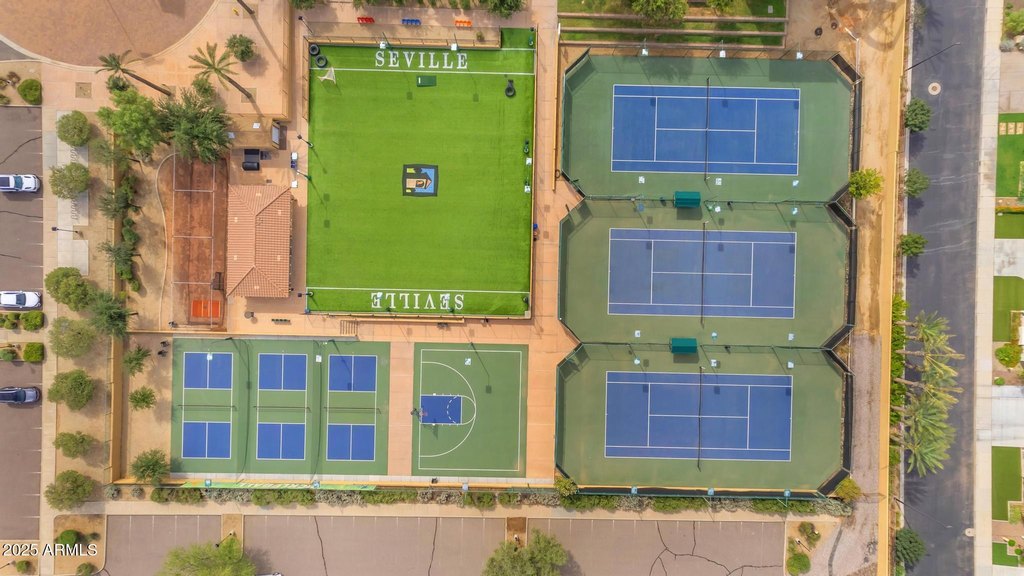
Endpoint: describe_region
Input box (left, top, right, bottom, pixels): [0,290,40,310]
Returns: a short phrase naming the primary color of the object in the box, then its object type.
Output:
white car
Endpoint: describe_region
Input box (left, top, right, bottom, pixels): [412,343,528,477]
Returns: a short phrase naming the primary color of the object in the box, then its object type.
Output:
green basketball court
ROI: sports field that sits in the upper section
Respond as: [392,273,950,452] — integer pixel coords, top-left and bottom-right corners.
[306,27,536,316]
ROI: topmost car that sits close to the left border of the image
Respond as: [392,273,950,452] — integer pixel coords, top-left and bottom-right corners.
[0,173,40,194]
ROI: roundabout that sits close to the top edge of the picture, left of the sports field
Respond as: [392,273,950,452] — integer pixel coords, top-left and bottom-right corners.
[0,0,225,74]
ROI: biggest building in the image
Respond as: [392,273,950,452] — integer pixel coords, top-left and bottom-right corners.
[226,184,294,298]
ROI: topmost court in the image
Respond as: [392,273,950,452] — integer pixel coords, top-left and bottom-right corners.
[564,55,851,204]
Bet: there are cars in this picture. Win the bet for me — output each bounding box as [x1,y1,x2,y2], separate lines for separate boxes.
[0,388,39,407]
[0,290,40,310]
[0,173,40,194]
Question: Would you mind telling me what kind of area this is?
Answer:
sports ground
